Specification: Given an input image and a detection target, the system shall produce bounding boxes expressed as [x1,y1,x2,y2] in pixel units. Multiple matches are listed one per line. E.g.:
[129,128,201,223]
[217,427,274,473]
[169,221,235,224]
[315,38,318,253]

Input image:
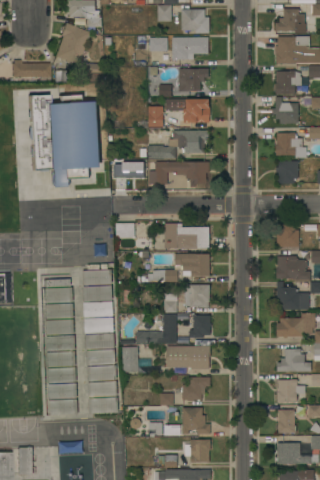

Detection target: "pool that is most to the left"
[124,316,140,338]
